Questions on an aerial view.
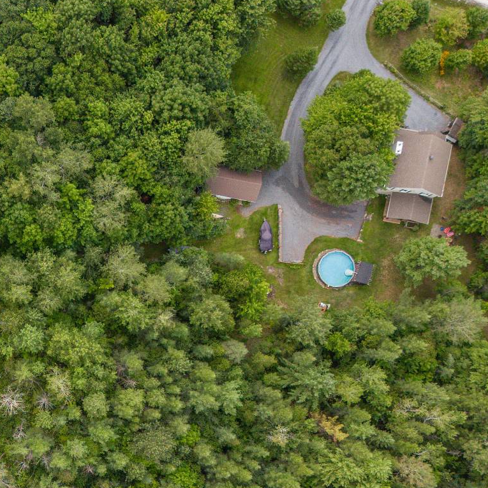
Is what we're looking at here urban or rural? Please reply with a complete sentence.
The area shown here is rural.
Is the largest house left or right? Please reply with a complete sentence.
The largest house is on the right side of the image.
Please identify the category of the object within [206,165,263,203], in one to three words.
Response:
shed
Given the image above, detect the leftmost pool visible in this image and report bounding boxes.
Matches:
[316,250,355,287]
